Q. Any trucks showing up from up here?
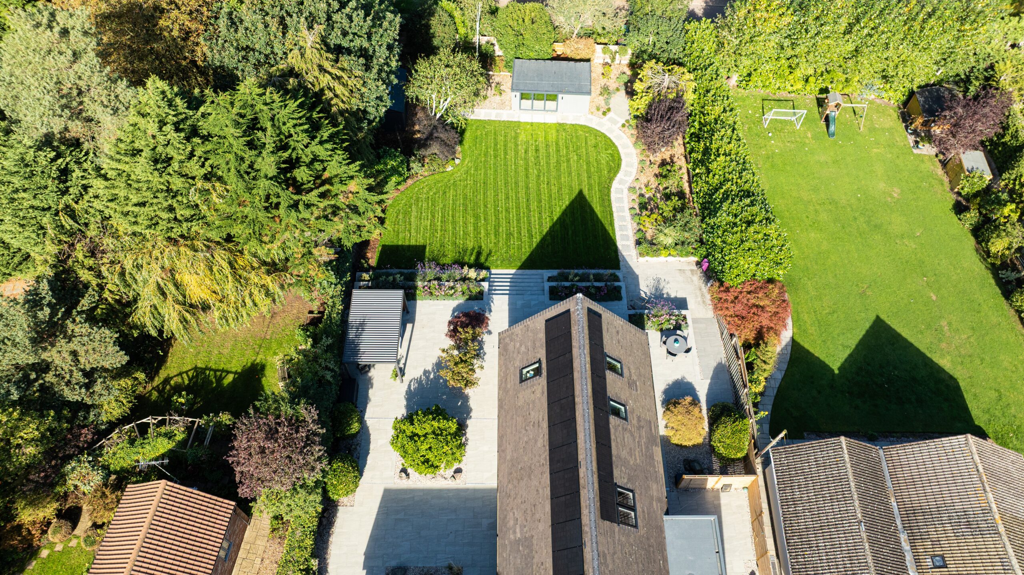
No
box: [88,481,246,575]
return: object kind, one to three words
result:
building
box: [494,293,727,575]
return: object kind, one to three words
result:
house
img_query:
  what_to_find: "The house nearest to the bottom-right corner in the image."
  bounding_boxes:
[760,434,1024,575]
